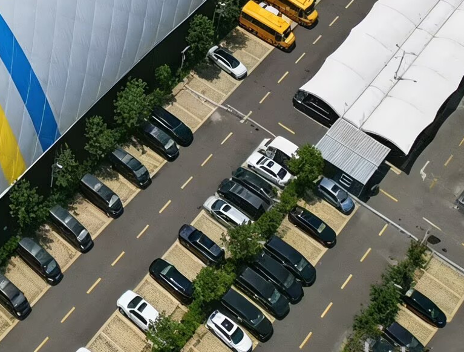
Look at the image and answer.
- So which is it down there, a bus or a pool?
bus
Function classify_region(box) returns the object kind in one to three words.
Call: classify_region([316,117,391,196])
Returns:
shed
